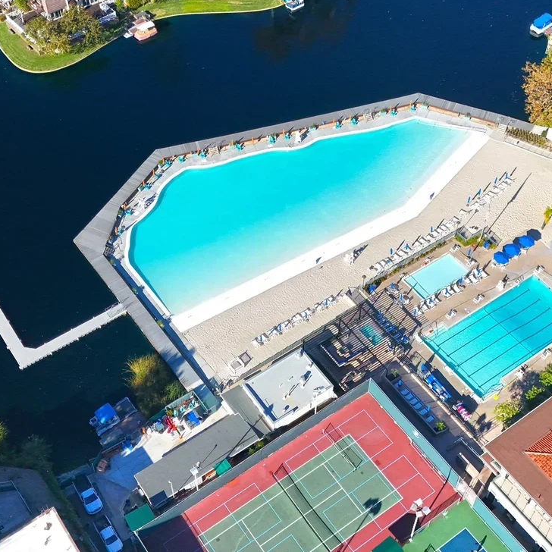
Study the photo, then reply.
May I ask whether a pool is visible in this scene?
Yes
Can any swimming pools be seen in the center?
Yes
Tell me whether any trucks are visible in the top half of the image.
No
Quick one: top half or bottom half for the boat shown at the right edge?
top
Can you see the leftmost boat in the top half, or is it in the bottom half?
bottom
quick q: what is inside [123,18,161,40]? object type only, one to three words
boat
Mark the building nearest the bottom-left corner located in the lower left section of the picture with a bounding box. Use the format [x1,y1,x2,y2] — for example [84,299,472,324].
[0,505,83,552]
